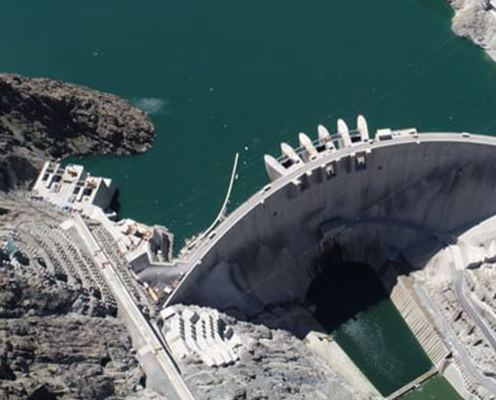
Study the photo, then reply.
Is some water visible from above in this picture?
Yes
